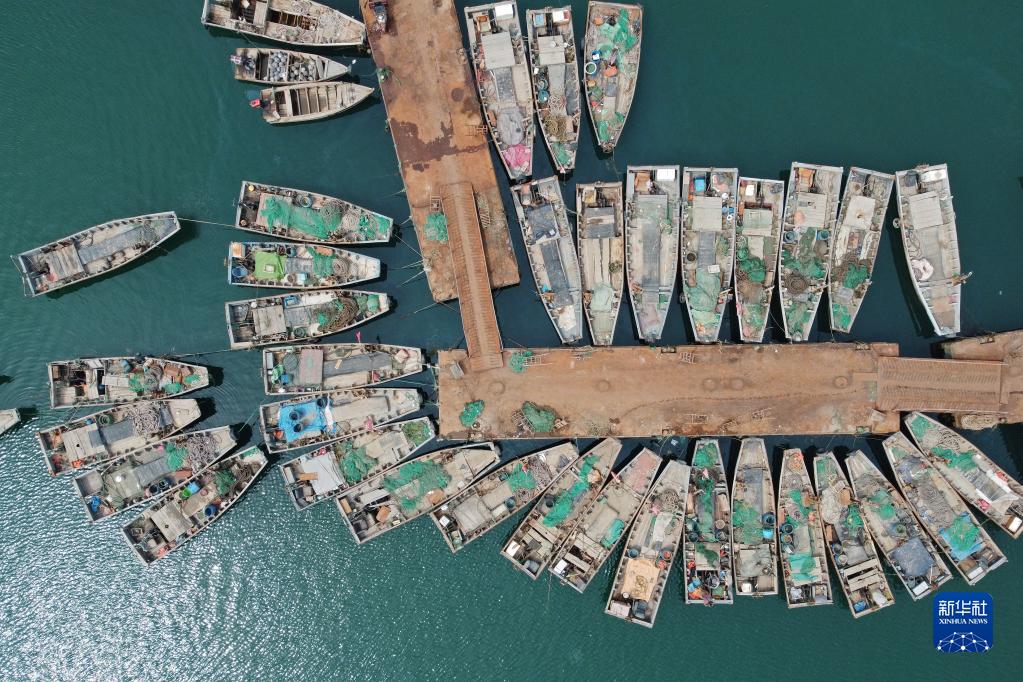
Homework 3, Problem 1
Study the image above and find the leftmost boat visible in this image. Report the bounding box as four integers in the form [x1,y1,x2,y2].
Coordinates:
[0,407,25,439]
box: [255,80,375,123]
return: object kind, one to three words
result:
boat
